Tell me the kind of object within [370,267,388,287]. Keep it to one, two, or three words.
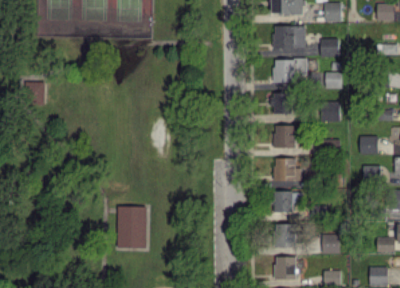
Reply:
building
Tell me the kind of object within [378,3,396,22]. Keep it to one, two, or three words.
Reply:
building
